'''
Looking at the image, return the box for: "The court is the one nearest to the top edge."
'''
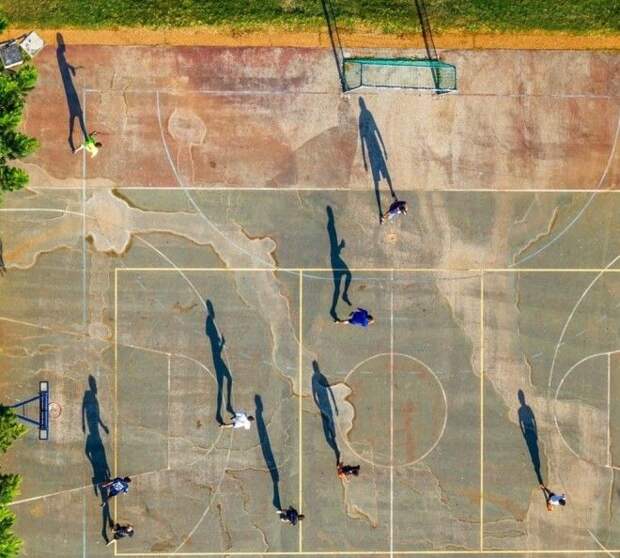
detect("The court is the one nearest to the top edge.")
[0,45,620,322]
